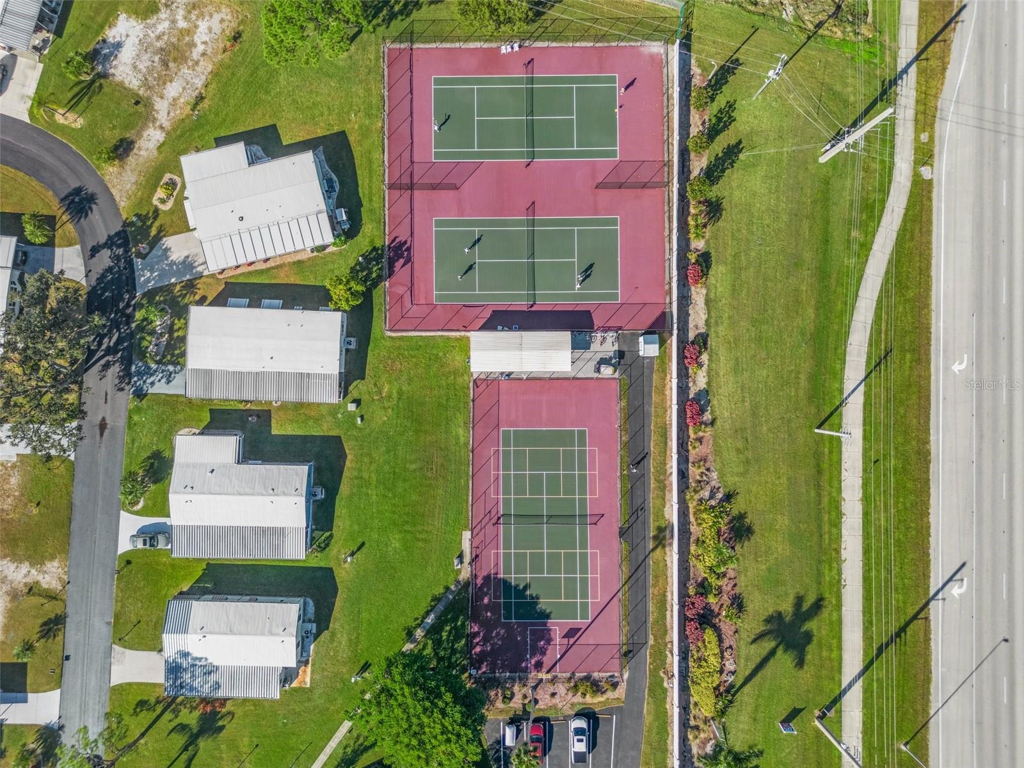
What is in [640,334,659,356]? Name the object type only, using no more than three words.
shed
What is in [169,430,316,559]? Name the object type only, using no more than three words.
house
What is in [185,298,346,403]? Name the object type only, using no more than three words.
house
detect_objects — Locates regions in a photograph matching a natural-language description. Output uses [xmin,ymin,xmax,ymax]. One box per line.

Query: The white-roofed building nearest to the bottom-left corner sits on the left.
[162,594,304,699]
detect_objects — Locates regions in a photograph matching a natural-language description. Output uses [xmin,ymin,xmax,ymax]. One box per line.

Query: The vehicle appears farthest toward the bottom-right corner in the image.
[570,716,589,764]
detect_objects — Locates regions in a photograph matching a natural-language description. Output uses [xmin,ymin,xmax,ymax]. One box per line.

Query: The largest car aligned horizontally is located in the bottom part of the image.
[129,533,169,552]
